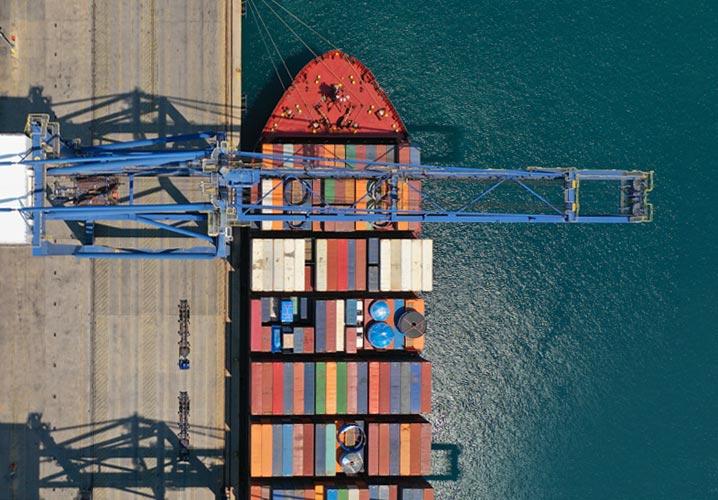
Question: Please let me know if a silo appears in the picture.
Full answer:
No, no silo is visible in the scene.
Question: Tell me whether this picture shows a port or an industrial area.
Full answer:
The area seen from above is a port.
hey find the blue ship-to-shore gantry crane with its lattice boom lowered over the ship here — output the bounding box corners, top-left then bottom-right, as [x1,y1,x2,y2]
[0,110,654,260]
